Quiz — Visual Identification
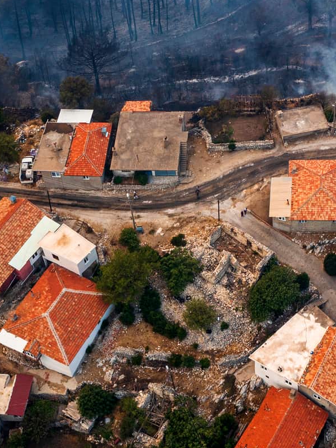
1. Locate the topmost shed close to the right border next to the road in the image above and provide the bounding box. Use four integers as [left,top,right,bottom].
[275,105,329,147]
